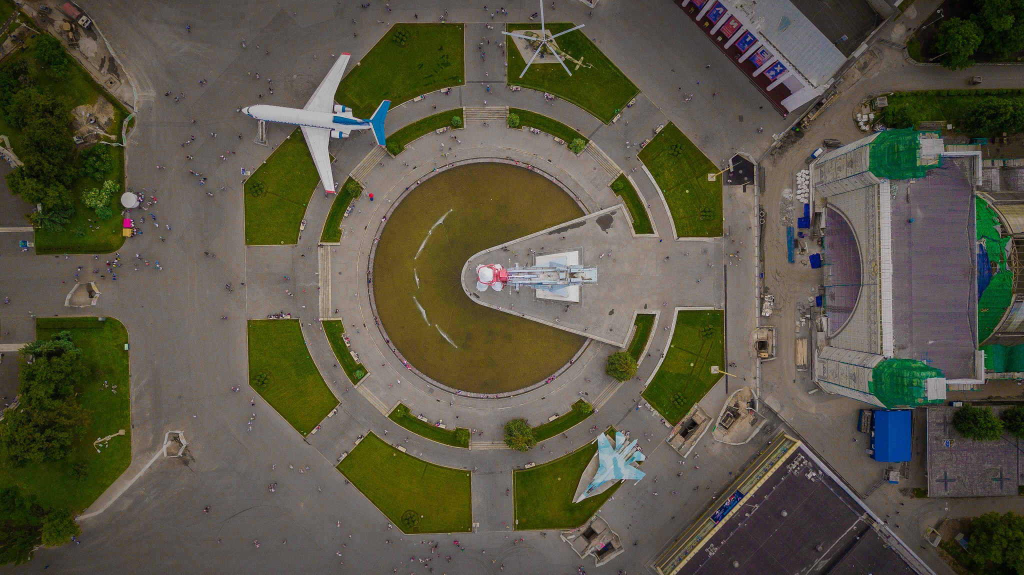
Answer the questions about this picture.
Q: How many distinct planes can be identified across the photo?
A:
two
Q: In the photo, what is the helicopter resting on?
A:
grass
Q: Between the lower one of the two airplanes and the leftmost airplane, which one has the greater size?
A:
the leftmost airplane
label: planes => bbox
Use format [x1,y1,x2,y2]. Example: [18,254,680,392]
[576,432,645,503]
[244,52,390,196]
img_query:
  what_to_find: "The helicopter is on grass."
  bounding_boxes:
[502,0,597,77]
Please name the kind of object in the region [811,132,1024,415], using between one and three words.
building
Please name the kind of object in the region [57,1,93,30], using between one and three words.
truck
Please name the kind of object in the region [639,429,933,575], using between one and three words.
building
